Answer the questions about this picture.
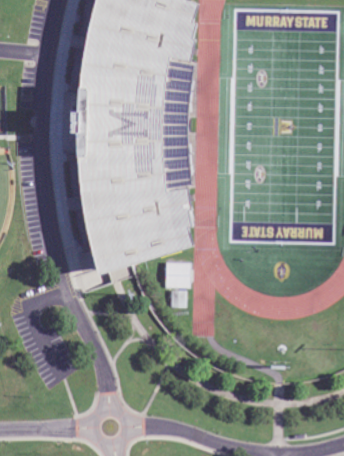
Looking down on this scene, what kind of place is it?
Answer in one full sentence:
It's a sports ground.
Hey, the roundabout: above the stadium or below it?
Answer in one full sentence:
You can see the roundabout below the stadium in the frame.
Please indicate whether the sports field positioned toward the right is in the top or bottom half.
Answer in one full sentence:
You can find the sports field positioned toward the right in the top half.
